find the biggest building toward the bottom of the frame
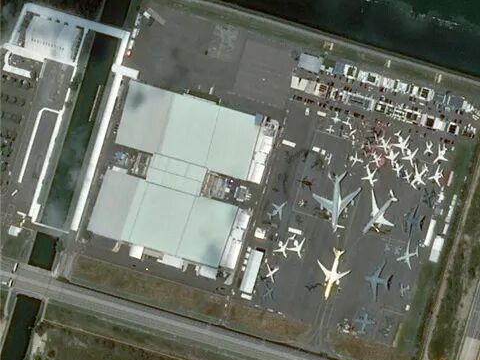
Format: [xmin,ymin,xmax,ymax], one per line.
[87,170,239,268]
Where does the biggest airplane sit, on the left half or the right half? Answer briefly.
right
